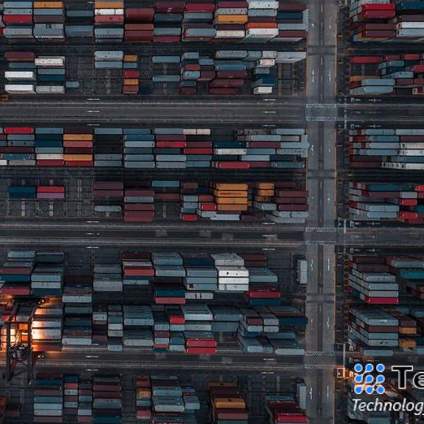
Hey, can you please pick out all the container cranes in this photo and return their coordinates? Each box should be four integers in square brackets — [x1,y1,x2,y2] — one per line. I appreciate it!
[9,297,47,381]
